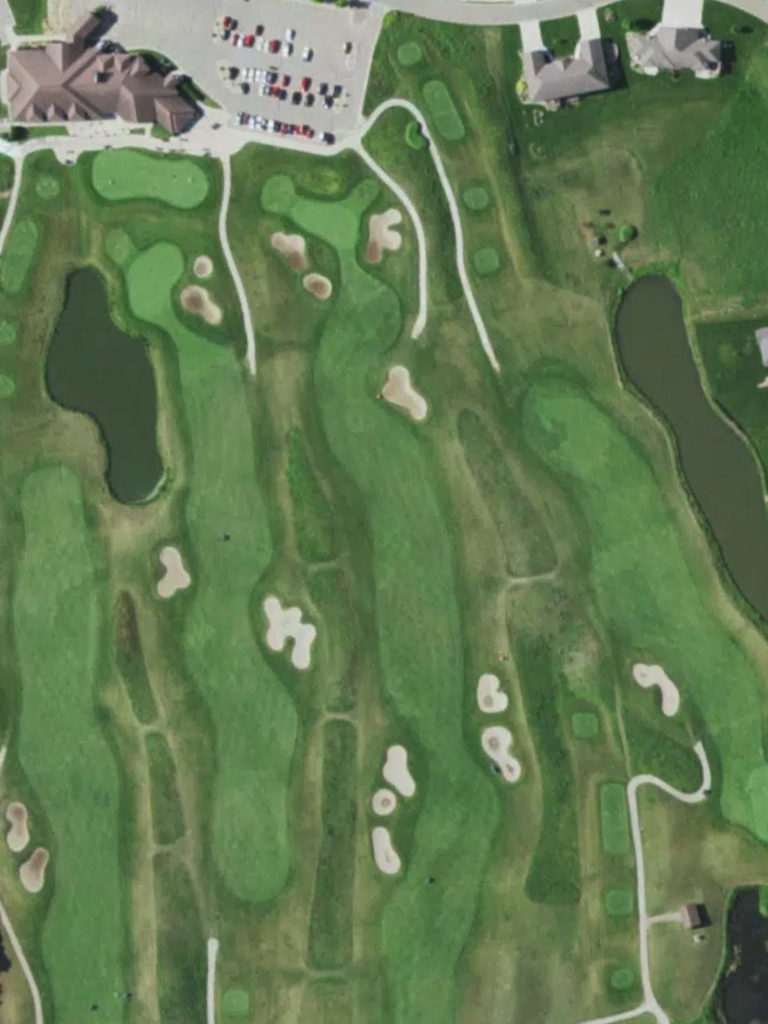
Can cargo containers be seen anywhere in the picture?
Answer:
No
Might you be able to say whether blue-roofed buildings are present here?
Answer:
No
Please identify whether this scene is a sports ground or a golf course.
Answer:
golf course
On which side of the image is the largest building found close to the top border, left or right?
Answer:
left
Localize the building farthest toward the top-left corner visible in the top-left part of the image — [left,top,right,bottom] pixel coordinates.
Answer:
[7,11,197,135]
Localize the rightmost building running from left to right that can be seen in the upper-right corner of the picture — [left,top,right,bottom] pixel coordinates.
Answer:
[630,28,723,70]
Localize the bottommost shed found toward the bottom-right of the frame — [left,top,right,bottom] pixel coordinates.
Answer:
[680,904,701,930]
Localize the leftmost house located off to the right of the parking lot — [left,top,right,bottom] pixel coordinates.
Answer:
[523,38,611,100]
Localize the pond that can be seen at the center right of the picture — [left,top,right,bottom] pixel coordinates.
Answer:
[616,274,768,625]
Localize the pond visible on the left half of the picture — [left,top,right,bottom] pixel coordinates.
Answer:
[46,267,165,504]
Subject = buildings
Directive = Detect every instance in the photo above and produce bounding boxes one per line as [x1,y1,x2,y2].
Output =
[523,38,611,100]
[7,11,197,135]
[630,28,723,70]
[680,904,701,930]
[756,328,768,367]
